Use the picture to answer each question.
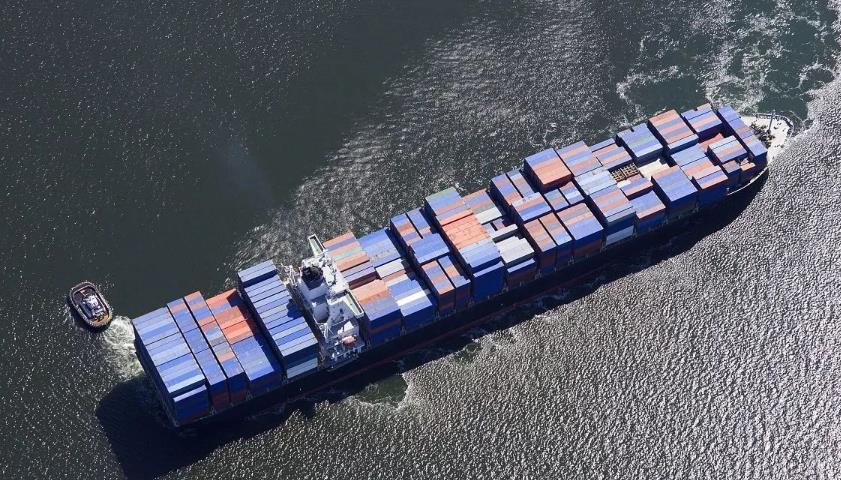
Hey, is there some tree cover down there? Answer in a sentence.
No, the picture contains no tree cover.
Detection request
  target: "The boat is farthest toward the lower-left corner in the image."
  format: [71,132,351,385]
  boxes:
[67,284,117,335]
